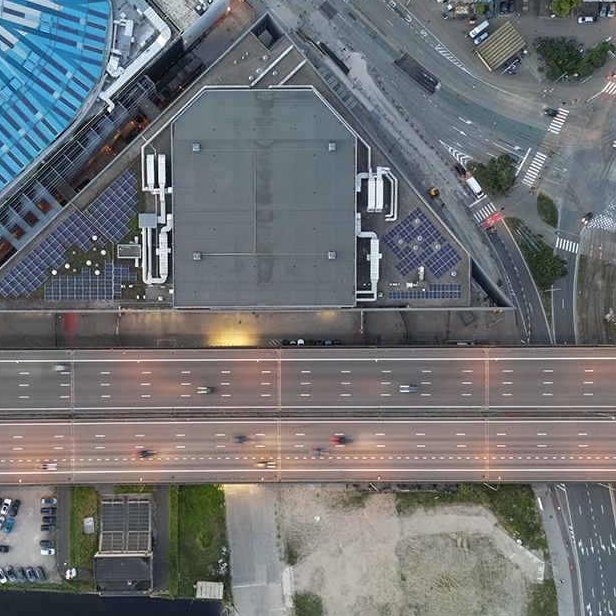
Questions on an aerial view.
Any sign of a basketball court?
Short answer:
No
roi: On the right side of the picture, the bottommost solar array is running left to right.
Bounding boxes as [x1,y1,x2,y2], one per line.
[389,285,462,298]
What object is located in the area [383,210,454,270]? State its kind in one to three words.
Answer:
solar array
